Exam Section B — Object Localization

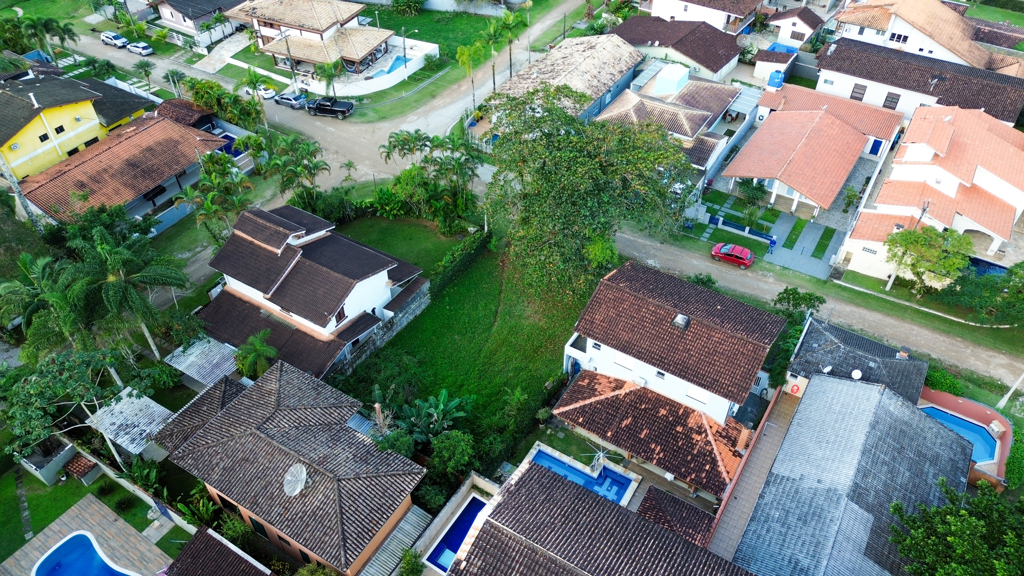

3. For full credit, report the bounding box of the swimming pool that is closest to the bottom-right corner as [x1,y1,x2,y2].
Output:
[916,402,1004,466]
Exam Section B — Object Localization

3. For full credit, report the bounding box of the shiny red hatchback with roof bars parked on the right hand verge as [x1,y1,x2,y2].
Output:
[709,243,759,270]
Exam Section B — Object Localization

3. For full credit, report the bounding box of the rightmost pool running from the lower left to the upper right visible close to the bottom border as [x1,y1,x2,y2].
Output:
[421,492,489,576]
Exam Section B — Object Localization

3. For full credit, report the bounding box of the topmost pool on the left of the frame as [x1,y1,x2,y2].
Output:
[369,54,415,78]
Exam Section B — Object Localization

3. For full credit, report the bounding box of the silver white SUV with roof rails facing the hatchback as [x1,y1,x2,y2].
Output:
[98,29,127,48]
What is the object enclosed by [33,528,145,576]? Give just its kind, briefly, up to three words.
swimming pool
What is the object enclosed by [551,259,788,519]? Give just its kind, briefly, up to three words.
house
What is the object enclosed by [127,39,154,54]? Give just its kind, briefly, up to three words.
car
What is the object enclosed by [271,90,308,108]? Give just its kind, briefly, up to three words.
car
